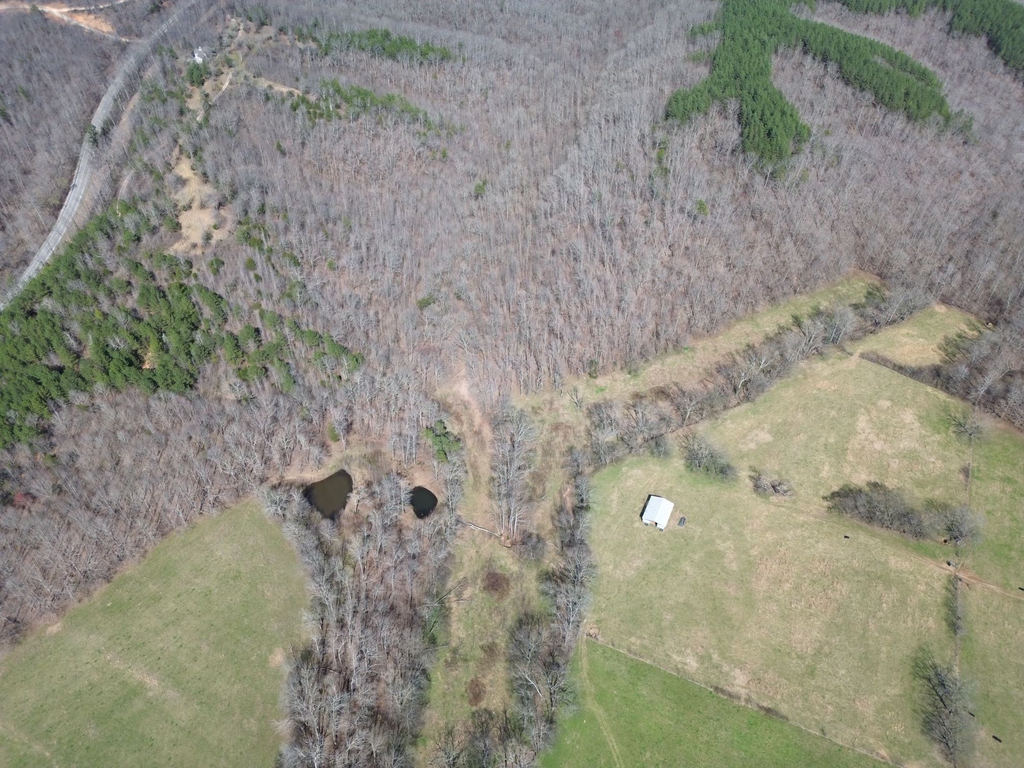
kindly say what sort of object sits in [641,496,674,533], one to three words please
barn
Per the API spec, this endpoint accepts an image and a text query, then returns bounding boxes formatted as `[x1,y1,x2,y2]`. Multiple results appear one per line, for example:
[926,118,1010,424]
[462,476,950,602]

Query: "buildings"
[189,44,209,62]
[641,496,674,533]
